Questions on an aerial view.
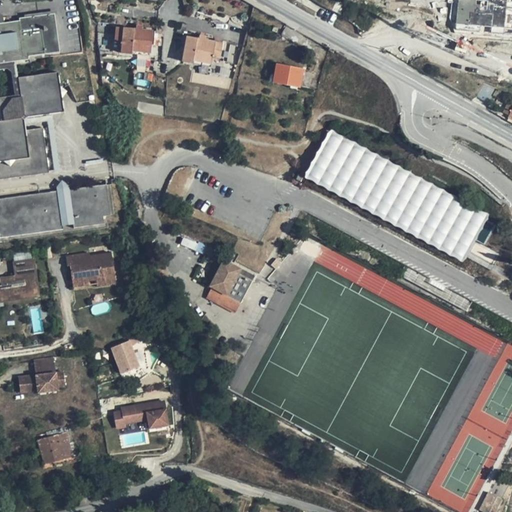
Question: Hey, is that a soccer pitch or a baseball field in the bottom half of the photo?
soccer pitch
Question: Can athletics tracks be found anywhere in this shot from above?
Yes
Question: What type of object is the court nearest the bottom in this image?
tennis court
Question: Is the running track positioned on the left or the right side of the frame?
right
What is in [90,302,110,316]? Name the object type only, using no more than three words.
swimming pool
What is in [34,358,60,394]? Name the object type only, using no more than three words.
house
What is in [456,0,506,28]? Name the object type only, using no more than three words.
building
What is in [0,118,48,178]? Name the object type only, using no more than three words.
building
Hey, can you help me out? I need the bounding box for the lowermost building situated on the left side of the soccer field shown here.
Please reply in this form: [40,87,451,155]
[38,430,76,468]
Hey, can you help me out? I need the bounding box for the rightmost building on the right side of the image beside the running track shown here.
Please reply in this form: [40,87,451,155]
[306,130,489,262]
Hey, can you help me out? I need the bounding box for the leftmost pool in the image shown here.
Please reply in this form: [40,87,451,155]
[30,306,44,334]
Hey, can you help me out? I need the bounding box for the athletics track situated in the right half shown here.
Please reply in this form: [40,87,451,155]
[314,247,504,358]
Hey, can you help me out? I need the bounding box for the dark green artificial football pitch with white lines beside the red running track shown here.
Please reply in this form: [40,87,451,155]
[240,262,475,483]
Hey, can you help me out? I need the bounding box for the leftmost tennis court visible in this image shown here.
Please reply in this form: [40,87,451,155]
[442,435,492,499]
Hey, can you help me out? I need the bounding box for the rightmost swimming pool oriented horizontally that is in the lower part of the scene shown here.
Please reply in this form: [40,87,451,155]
[120,432,149,448]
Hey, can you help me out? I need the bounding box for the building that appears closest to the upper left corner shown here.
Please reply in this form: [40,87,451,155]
[0,14,60,62]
